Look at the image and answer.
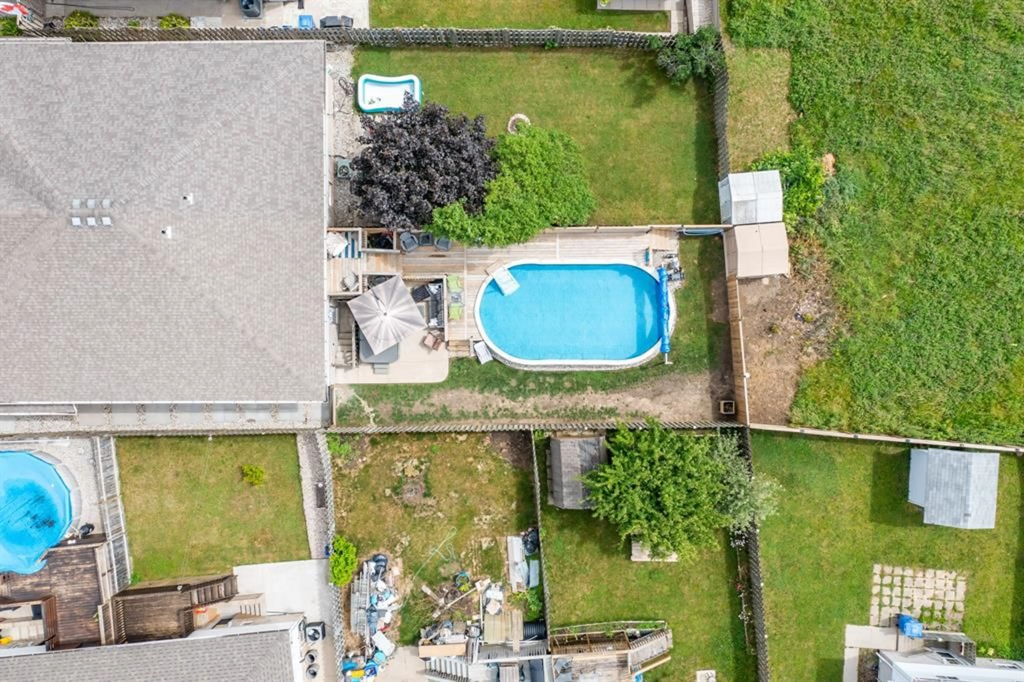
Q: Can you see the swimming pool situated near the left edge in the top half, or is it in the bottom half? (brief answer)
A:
bottom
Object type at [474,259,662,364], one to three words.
swimming pool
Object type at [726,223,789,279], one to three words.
shed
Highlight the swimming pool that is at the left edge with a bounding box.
[0,440,85,575]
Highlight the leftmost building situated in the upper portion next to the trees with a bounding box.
[0,34,333,416]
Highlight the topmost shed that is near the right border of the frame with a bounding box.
[904,447,1000,529]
